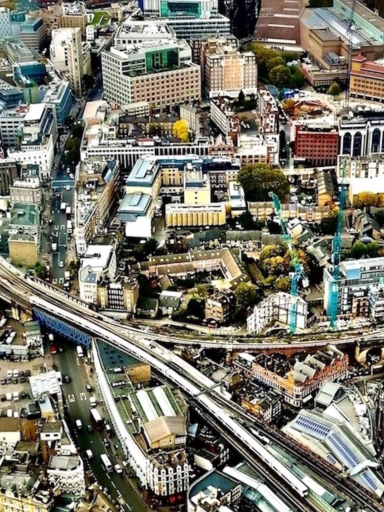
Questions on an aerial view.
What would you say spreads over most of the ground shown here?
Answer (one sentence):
The bulk of the photo consists of buildings.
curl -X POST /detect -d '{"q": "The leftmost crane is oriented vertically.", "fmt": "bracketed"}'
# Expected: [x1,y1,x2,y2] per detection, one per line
[270,192,313,312]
